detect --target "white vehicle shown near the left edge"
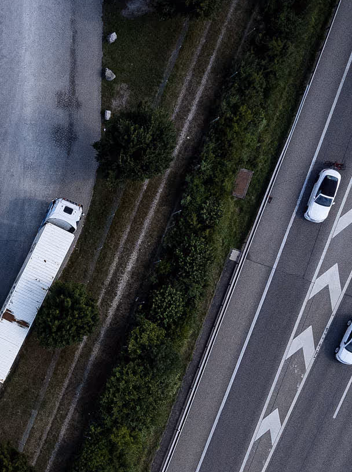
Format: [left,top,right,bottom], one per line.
[0,197,85,383]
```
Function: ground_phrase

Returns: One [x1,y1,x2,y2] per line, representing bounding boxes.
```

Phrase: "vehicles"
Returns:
[334,317,352,369]
[301,165,344,226]
[0,197,85,383]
